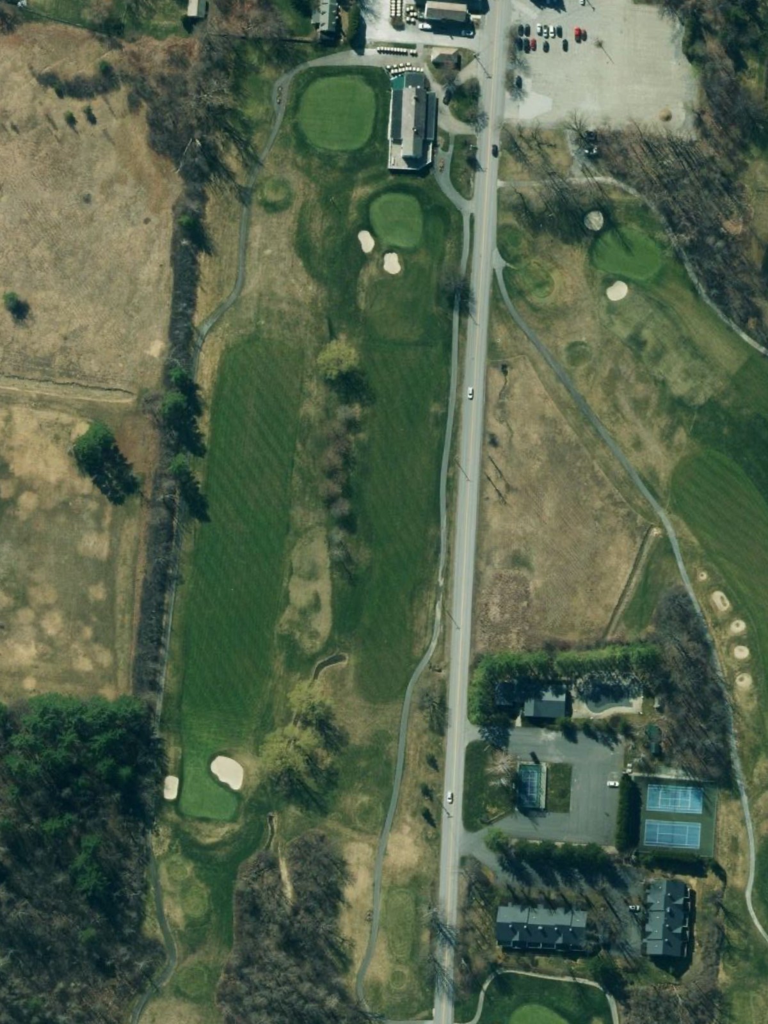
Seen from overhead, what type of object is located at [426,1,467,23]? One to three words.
house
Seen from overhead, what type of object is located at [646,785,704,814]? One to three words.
tennis court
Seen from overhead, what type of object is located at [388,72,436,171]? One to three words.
building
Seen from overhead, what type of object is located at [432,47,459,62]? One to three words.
building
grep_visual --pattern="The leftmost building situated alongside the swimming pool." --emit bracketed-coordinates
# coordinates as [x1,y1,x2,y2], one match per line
[524,683,566,717]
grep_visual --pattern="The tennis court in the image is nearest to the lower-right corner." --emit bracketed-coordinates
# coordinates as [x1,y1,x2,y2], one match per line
[644,820,701,849]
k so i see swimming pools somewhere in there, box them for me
[570,671,643,719]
